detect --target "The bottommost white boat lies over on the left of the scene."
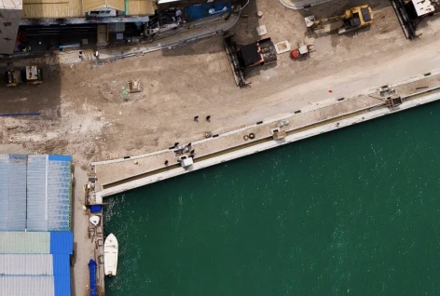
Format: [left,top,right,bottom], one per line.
[104,234,119,279]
